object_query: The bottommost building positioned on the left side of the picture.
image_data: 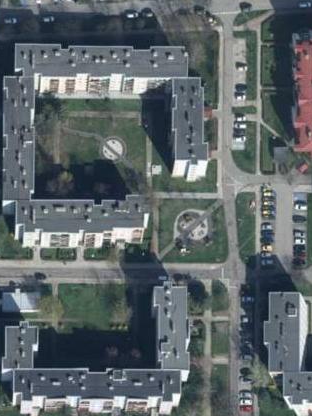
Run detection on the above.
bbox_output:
[13,369,187,416]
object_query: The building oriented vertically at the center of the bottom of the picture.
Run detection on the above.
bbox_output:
[154,281,195,380]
